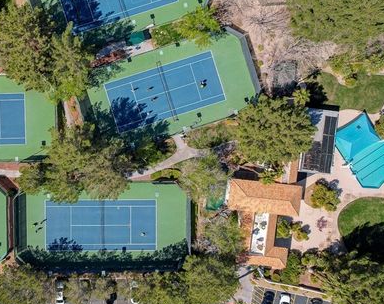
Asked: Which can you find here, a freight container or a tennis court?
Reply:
tennis court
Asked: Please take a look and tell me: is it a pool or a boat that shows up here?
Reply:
pool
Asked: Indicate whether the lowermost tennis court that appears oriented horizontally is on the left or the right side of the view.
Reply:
left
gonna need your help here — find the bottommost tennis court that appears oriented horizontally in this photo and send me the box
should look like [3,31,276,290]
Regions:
[14,181,190,263]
